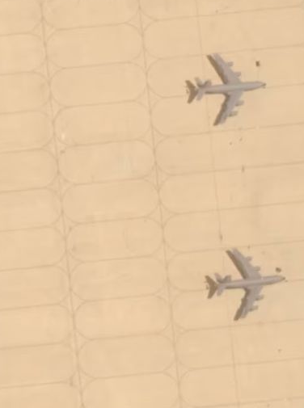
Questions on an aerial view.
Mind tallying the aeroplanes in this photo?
two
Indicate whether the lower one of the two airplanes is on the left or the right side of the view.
right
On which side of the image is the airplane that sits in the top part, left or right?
right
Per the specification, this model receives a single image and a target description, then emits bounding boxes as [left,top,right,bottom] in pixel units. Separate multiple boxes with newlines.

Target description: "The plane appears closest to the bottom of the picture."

[214,247,285,318]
